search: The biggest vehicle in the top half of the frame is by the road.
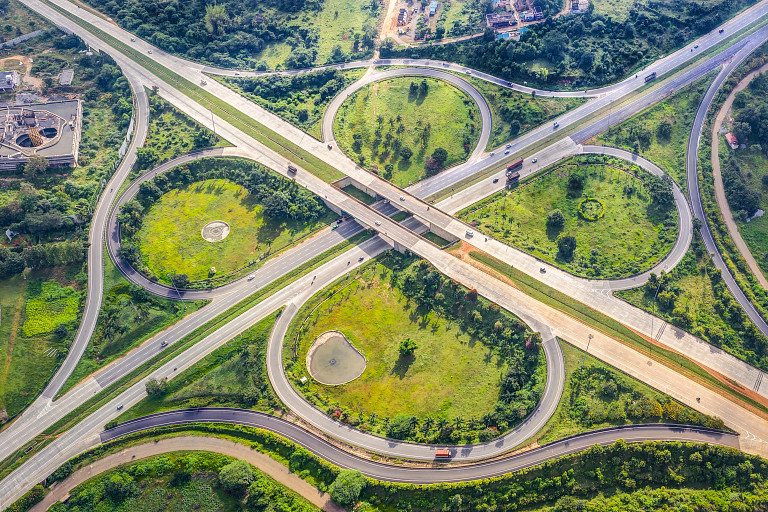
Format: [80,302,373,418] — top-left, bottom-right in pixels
[506,156,526,170]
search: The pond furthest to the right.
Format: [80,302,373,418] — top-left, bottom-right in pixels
[305,330,362,382]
